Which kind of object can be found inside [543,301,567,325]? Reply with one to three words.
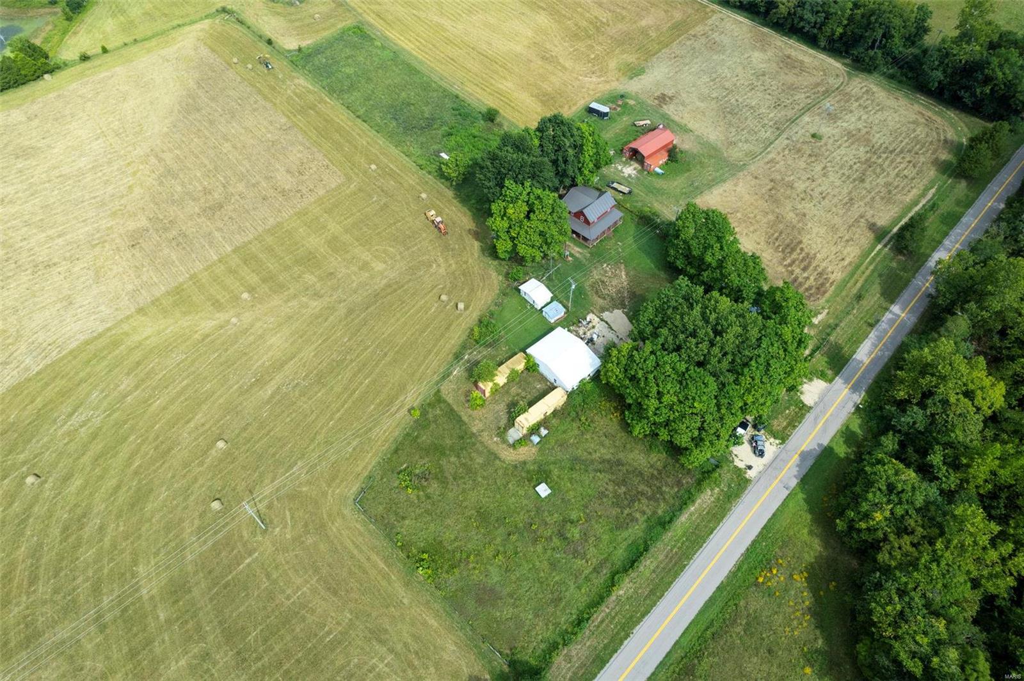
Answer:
shed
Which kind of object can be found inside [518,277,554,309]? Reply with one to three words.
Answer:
shed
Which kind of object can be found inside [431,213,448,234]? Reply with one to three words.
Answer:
work vehicle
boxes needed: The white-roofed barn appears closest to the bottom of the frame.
[524,327,602,399]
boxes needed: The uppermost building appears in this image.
[624,130,675,173]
